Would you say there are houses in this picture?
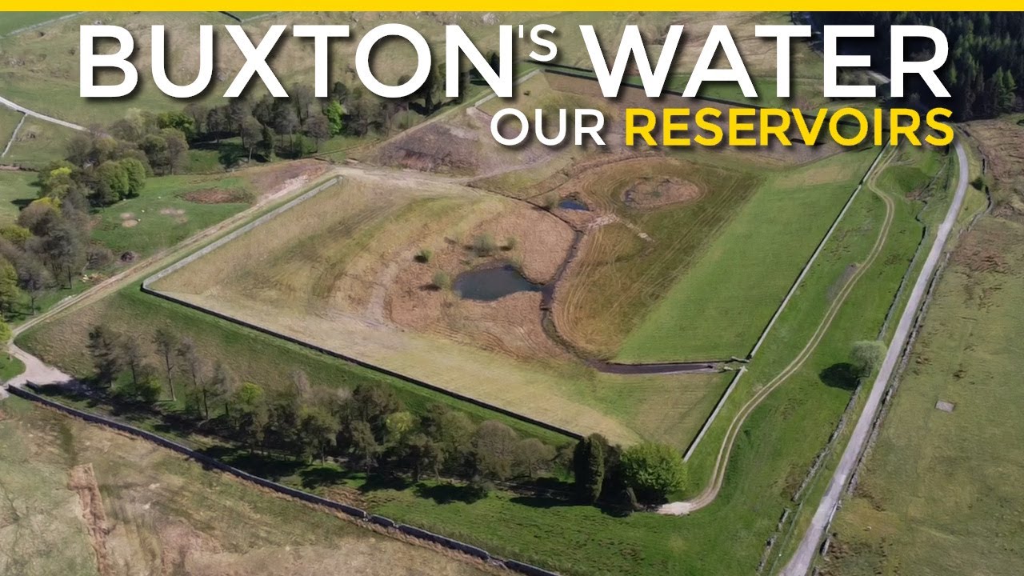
No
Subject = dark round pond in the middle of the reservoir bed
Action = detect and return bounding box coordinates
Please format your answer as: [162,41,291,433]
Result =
[454,267,547,301]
